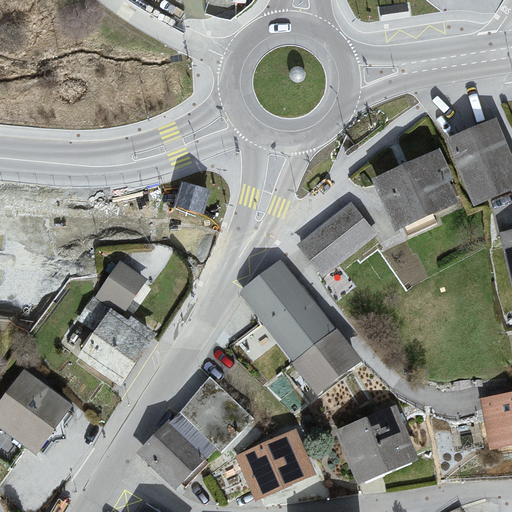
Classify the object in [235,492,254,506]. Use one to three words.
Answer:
car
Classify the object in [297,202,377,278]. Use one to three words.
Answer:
shed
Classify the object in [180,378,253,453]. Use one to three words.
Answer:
building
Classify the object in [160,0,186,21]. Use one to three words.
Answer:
truck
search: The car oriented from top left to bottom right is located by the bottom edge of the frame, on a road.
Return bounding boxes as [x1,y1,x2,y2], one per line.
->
[190,482,210,504]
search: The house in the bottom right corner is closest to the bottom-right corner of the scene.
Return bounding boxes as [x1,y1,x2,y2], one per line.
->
[480,391,512,450]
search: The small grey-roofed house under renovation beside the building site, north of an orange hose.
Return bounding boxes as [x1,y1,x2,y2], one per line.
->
[175,182,211,214]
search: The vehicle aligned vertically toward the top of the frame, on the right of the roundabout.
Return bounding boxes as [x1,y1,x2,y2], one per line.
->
[468,88,482,122]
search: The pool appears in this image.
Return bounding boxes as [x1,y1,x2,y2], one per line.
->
[266,374,309,415]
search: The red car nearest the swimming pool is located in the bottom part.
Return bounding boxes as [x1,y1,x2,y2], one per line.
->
[213,350,235,369]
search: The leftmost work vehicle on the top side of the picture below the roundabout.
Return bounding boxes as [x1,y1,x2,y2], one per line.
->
[313,178,338,195]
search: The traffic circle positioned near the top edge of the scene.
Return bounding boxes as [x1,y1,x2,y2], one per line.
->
[218,9,362,155]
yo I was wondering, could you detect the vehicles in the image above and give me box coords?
[204,361,224,380]
[268,22,291,34]
[430,94,453,118]
[138,0,158,12]
[190,482,210,504]
[84,422,100,444]
[434,114,452,136]
[156,409,175,430]
[52,496,72,512]
[313,178,338,195]
[235,492,254,506]
[468,88,482,122]
[160,0,186,21]
[490,194,512,208]
[213,350,235,369]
